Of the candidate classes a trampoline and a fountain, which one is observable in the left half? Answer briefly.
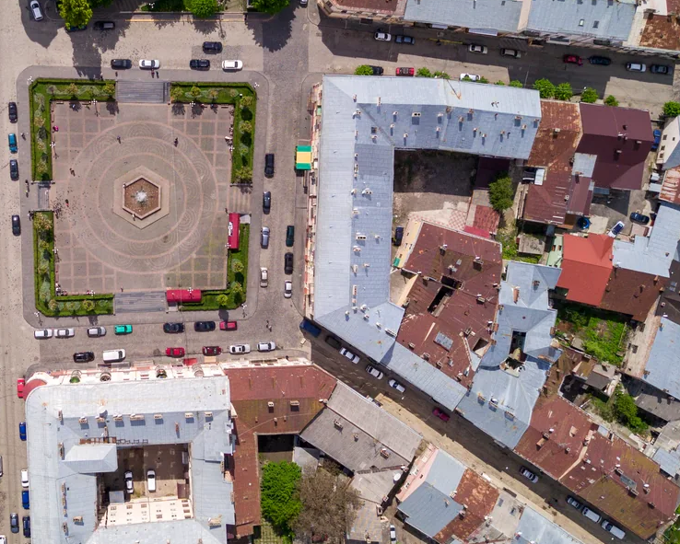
fountain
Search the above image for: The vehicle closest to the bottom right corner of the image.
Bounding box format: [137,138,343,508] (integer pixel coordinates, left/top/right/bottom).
[600,519,624,539]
